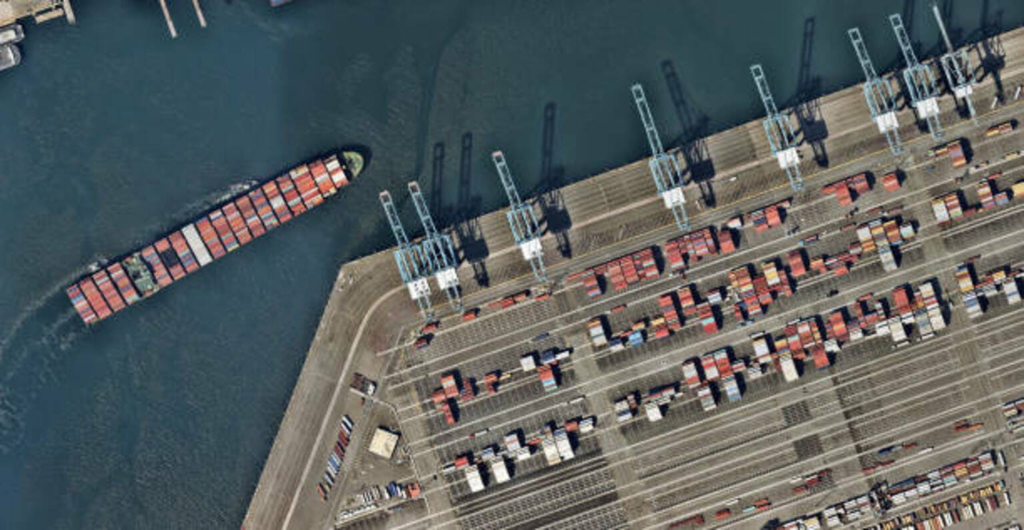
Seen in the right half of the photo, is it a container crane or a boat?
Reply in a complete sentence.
Visible in the right half of the photo is a container crane.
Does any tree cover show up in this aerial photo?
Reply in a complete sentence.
No, tree cover can't be seen anywhere here.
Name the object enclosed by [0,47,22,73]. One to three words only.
boat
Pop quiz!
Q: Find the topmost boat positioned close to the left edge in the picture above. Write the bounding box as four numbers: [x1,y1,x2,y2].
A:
[0,27,25,50]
